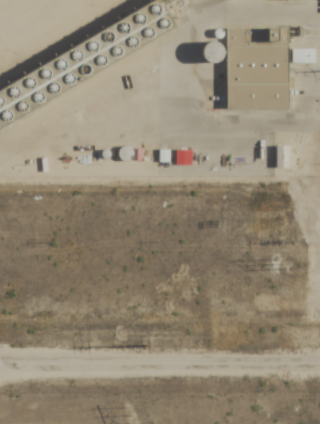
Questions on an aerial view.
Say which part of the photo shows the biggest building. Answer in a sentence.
The biggest building sits in the top right section of the image.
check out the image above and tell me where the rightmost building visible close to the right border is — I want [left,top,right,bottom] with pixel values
[292,48,316,62]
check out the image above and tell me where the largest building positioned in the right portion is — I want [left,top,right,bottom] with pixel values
[226,27,290,108]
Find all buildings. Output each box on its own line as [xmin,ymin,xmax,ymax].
[276,145,290,168]
[226,27,290,108]
[292,48,316,62]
